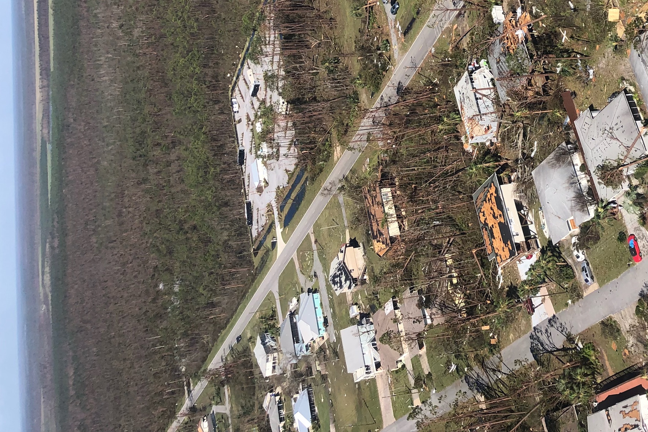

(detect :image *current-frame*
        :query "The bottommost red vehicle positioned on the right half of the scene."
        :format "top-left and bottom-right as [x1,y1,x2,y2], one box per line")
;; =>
[520,292,535,323]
